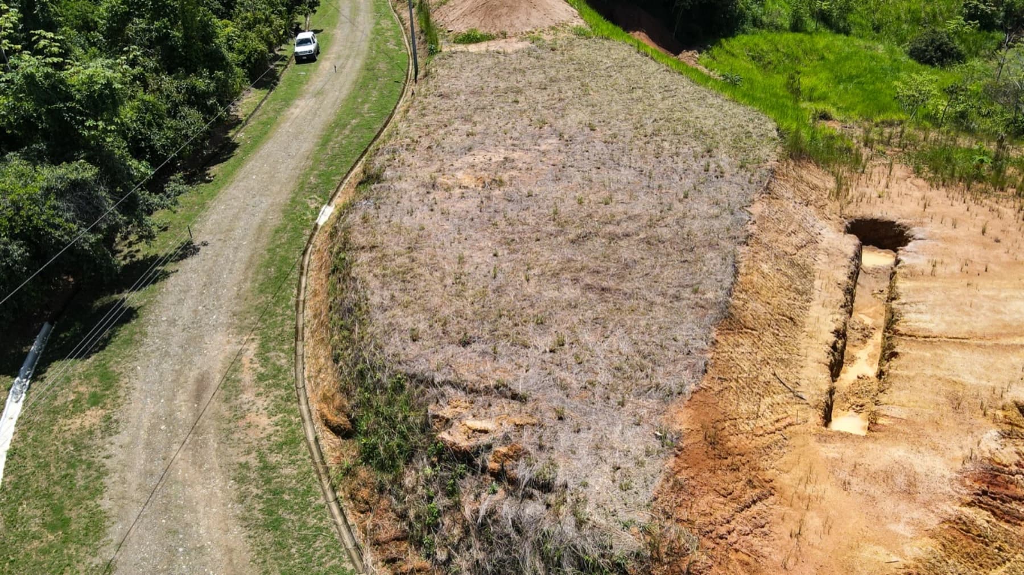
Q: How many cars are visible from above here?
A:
1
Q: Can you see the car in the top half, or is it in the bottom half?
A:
top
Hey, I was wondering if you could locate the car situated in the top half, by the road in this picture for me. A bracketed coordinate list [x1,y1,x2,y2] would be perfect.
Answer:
[290,26,321,60]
